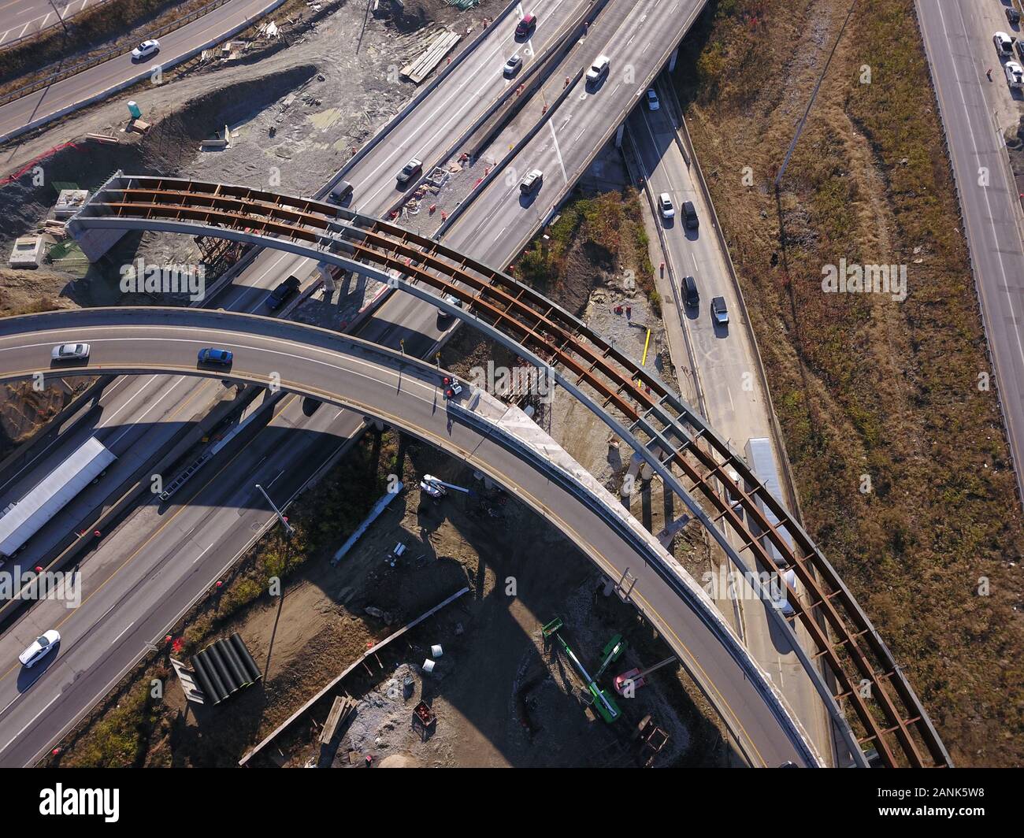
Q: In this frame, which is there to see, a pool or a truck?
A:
truck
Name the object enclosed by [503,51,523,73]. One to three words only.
car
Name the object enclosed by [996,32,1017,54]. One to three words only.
truck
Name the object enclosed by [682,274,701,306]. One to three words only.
vehicle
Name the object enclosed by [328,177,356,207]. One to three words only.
van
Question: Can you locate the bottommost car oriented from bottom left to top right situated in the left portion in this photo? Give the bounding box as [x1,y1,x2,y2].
[13,630,61,672]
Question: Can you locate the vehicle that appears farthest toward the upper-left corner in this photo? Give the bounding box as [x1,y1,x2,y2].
[130,39,159,57]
